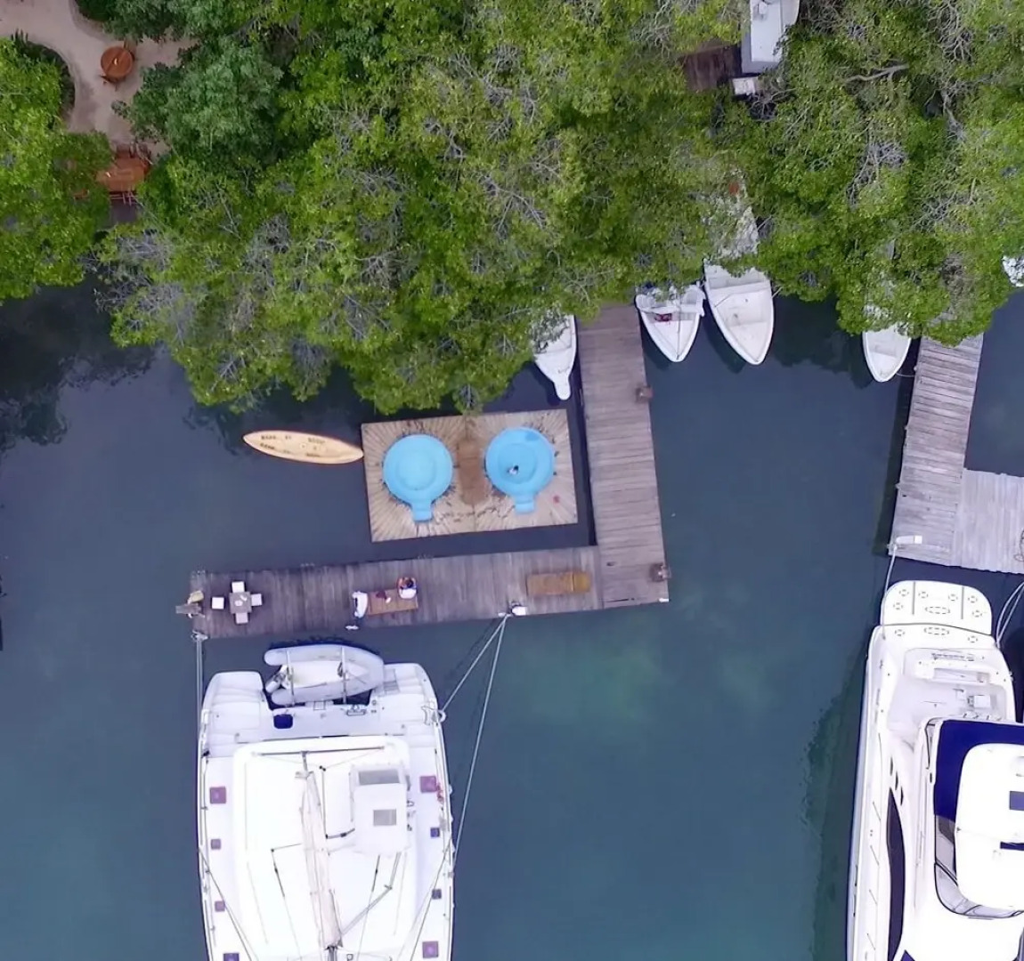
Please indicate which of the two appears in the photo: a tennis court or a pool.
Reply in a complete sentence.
I can see a pool in this picture.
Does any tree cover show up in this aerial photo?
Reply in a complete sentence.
Yes, there's tree cover in this view.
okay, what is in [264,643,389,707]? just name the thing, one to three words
boat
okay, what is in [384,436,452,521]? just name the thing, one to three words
swimming pool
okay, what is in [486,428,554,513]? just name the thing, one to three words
swimming pool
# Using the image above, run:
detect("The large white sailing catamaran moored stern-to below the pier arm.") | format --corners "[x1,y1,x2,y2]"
[198,646,455,961]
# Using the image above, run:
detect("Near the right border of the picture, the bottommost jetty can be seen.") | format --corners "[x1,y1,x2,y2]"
[953,469,1024,579]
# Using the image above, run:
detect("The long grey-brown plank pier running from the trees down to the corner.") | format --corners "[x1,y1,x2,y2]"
[566,107,668,608]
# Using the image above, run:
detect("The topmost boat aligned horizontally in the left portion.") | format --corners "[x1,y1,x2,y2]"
[243,428,363,462]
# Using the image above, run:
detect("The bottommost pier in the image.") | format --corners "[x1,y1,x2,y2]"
[191,546,603,638]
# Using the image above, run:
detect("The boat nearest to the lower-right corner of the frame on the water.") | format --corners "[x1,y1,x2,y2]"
[849,580,1024,961]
